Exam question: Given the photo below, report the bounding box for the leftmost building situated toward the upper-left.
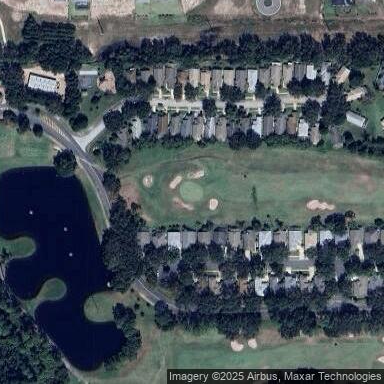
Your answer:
[27,73,58,93]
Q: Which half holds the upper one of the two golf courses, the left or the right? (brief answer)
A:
right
